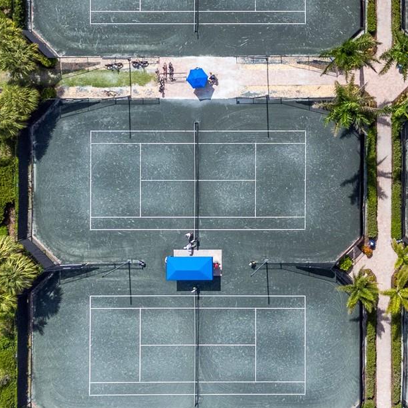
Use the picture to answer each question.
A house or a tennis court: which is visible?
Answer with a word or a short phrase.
tennis court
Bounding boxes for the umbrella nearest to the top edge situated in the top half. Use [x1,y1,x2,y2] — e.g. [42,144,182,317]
[187,67,210,88]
